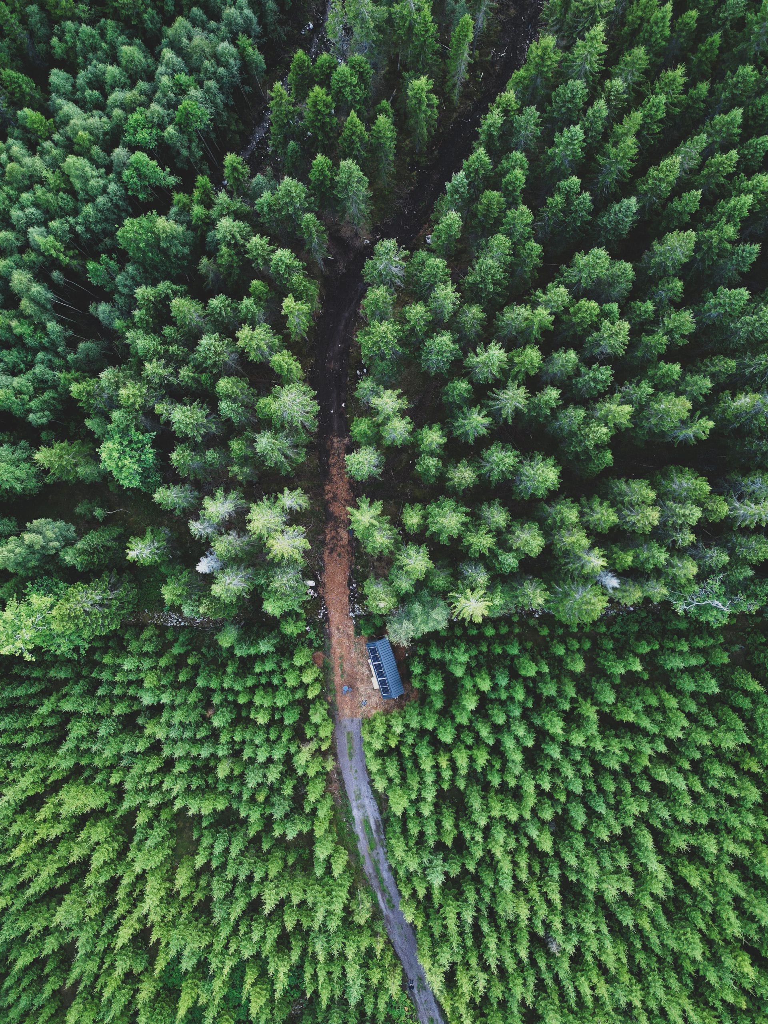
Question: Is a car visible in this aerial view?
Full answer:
No, there's no car here.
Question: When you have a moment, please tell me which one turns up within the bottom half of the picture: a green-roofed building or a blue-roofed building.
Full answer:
You can see a blue-roofed building within the bottom half of the picture.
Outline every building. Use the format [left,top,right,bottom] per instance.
[366,637,405,699]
